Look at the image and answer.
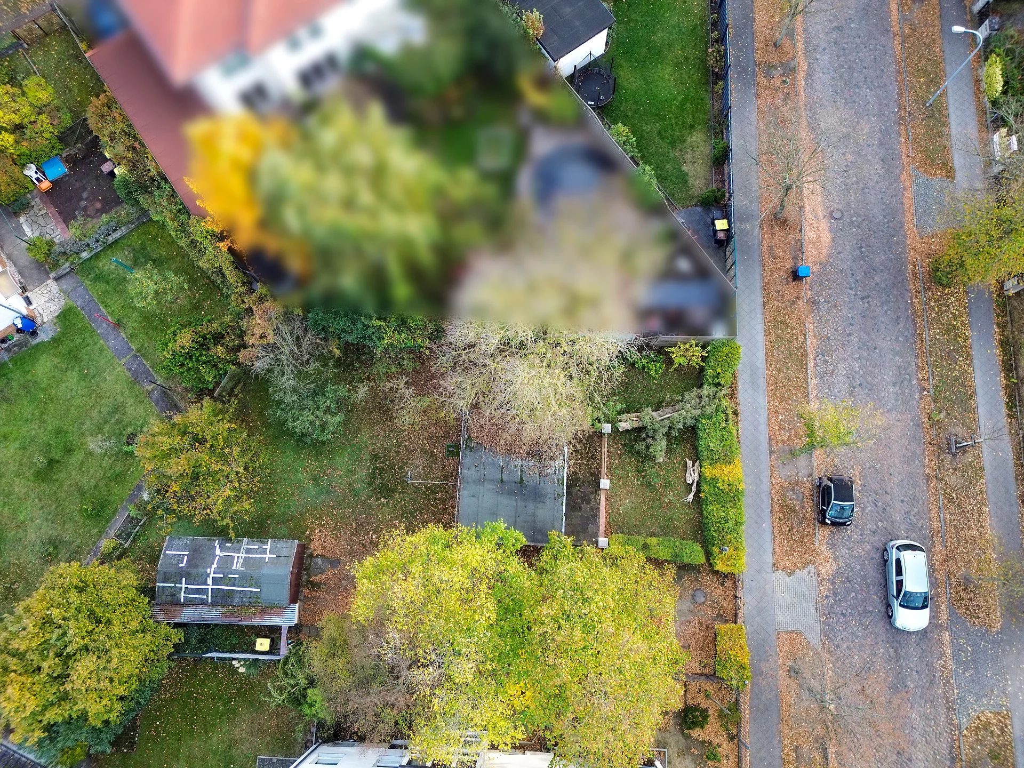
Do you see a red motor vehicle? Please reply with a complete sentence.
No, I find no red motor vehicle anywhere in the image.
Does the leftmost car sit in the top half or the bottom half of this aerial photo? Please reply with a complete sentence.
Seen from above, the leftmost car lies in the bottom half of the view.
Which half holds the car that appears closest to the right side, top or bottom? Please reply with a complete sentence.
You can find the car that appears closest to the right side in the bottom half.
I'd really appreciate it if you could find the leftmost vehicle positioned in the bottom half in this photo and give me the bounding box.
[814,473,862,529]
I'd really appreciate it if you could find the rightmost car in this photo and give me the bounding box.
[879,538,936,633]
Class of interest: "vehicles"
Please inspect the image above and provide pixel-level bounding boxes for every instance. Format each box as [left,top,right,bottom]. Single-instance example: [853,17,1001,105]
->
[814,473,862,529]
[879,538,936,633]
